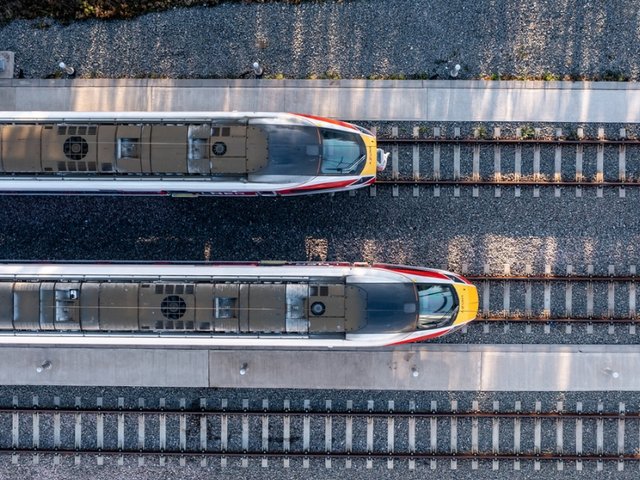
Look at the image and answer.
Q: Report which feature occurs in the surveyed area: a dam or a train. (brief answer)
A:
train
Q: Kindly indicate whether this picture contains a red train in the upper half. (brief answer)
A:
No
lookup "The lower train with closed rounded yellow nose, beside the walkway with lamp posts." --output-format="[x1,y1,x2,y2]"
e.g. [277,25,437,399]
[0,259,478,346]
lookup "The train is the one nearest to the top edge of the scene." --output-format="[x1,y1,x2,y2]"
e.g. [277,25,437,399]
[0,112,389,198]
